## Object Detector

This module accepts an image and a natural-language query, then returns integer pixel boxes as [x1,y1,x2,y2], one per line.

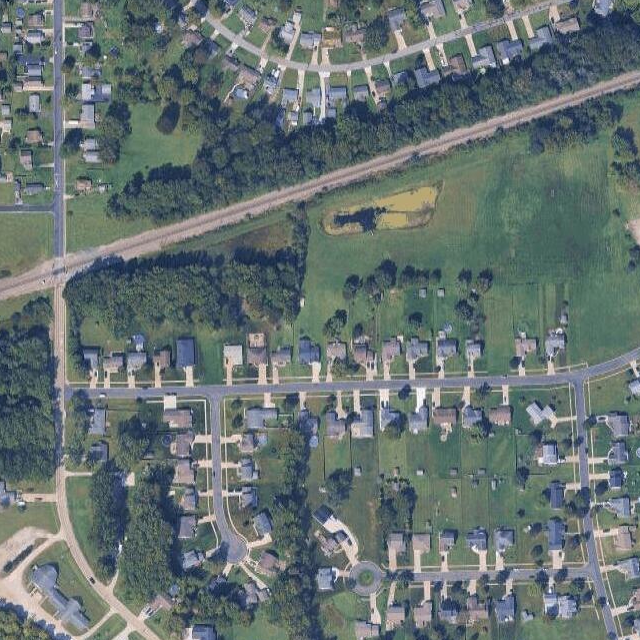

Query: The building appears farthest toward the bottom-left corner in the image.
[32,564,94,635]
